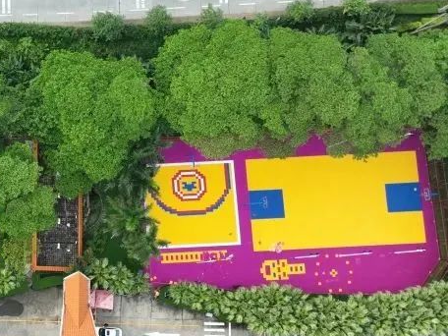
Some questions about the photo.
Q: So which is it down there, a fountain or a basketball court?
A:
basketball court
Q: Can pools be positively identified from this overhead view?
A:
No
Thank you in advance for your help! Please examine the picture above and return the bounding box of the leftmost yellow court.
[146,160,241,249]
